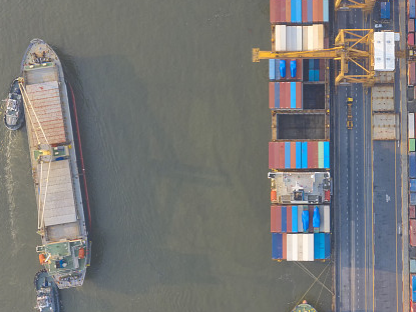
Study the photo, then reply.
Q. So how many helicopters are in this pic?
zero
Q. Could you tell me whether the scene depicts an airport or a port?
port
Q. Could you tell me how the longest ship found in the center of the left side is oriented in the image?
from top to bottom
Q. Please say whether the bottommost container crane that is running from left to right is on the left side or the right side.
right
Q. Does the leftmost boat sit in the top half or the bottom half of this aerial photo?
top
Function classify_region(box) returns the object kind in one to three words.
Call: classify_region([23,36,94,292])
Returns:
ship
